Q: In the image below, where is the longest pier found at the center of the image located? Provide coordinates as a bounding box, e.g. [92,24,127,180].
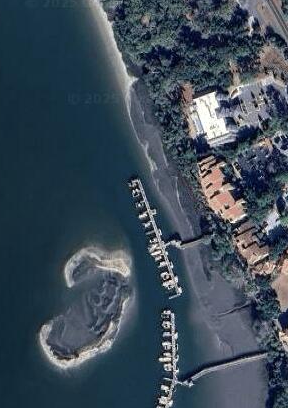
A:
[130,180,182,296]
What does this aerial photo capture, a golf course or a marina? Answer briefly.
marina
